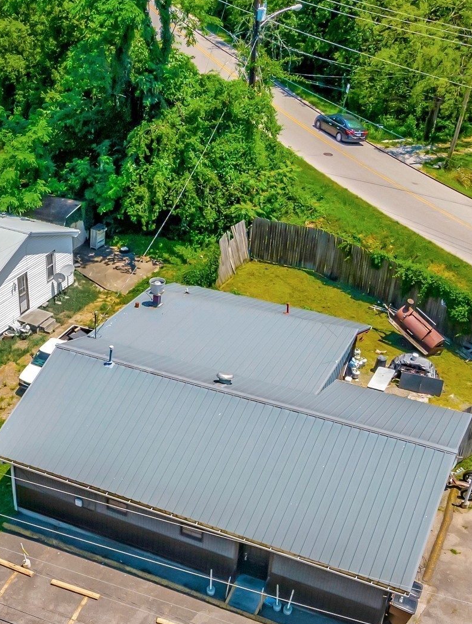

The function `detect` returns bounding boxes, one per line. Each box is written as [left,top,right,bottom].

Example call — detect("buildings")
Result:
[0,211,87,340]
[0,283,472,624]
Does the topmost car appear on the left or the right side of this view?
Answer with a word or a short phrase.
right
